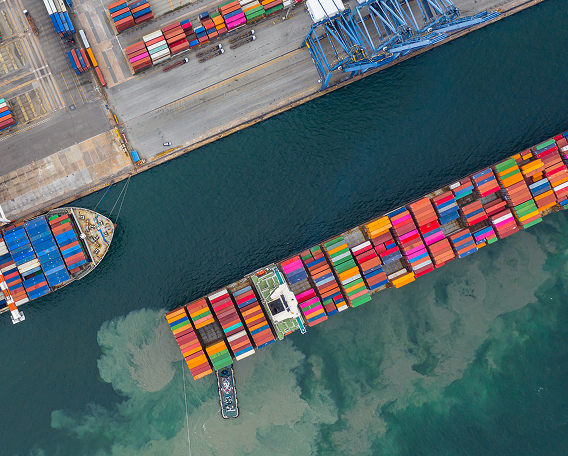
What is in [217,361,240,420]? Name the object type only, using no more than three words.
boat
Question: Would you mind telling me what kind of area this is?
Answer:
port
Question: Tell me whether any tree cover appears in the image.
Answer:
No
